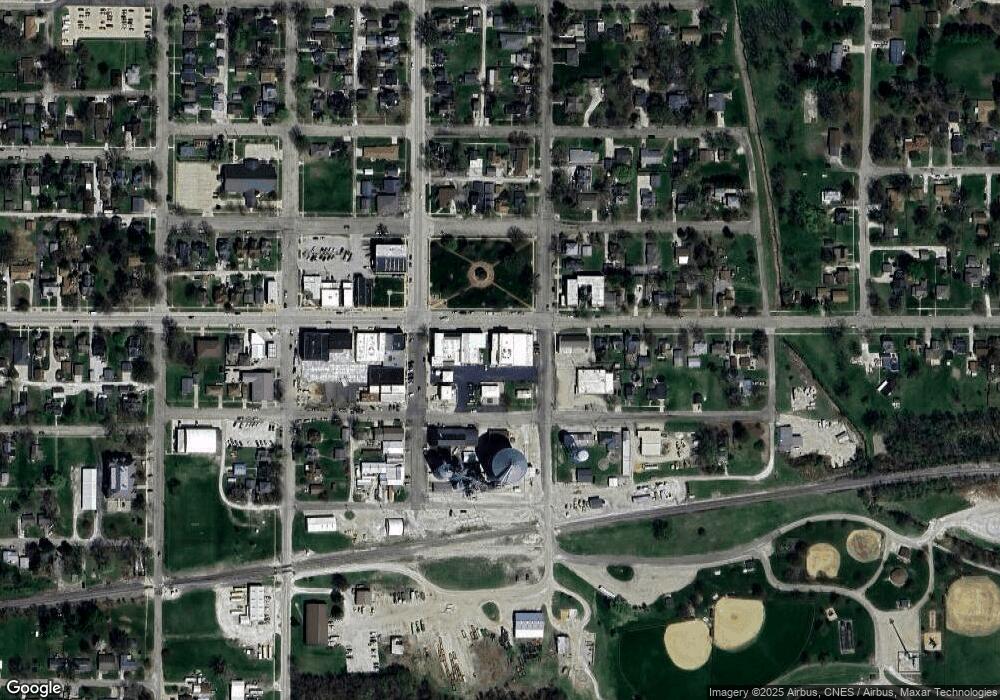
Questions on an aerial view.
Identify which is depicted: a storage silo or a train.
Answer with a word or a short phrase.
storage silo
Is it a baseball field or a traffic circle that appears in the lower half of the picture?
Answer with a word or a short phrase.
baseball field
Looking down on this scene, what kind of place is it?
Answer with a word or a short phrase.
residential area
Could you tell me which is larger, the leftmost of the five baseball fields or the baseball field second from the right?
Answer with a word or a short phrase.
the leftmost of the five baseball fields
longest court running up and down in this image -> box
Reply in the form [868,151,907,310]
[838,619,855,654]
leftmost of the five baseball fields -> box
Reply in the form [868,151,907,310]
[664,619,713,670]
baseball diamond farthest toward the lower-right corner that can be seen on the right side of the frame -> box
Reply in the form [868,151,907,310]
[946,573,1000,637]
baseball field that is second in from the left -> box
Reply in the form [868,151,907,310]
[713,597,765,651]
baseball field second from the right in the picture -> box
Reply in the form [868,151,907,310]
[847,528,884,562]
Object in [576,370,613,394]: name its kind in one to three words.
building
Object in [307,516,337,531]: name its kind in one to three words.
barn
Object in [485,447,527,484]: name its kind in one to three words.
silo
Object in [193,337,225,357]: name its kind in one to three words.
house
